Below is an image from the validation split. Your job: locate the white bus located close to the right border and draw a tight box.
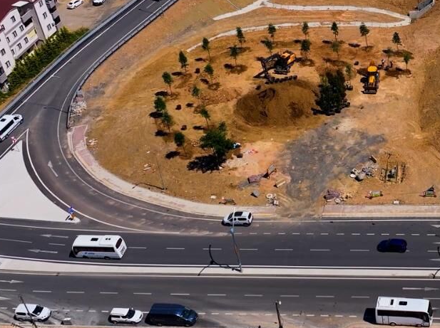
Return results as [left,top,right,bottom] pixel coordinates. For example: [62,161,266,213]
[373,296,431,326]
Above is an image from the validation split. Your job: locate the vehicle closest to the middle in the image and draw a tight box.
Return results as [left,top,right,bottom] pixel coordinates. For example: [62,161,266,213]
[221,209,254,226]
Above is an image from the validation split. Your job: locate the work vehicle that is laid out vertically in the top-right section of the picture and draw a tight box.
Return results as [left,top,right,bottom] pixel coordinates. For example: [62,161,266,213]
[362,58,379,91]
